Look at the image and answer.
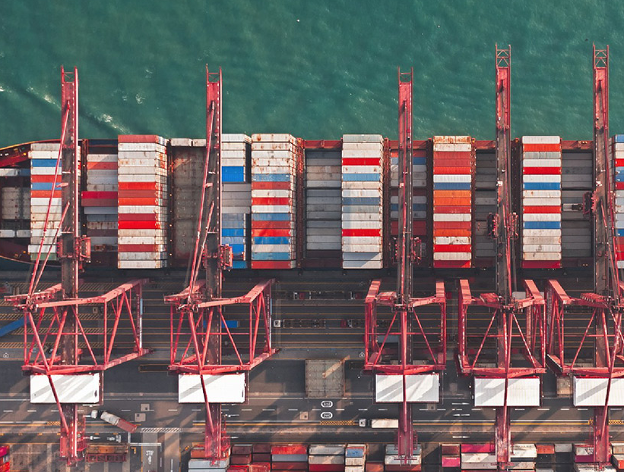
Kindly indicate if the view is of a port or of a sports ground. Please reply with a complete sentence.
This image shows a port.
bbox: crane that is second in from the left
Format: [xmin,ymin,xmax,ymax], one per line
[167,67,290,471]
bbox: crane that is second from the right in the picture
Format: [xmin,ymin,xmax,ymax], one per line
[452,46,546,471]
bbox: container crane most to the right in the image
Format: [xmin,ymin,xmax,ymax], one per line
[536,46,624,471]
